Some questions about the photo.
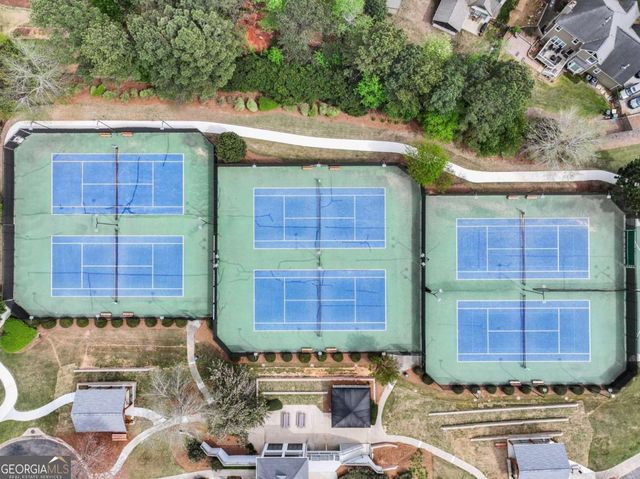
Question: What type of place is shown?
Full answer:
What you see here is a sports ground.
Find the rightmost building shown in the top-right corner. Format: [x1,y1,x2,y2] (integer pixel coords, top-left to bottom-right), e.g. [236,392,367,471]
[531,0,640,93]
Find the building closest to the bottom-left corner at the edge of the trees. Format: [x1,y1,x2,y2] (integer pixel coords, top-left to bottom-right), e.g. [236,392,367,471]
[71,381,137,431]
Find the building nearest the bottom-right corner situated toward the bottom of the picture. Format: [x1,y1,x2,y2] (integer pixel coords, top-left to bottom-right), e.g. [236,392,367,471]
[503,433,569,479]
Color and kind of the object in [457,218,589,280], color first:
blue tennis court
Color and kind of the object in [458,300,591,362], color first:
blue tennis court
